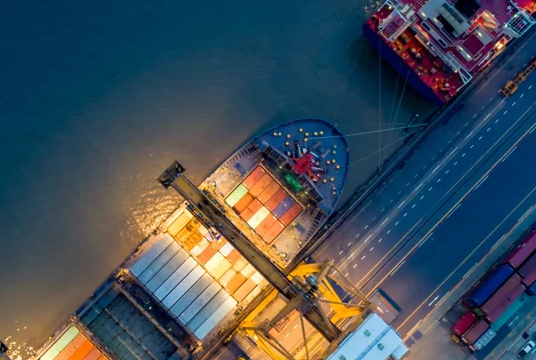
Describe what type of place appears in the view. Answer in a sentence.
The area seen from above is a port.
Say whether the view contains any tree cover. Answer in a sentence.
No, no tree cover is visible.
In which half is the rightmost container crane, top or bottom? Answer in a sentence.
You can find the rightmost container crane in the bottom half.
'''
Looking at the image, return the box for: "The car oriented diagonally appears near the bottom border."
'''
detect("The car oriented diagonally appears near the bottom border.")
[517,339,535,358]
